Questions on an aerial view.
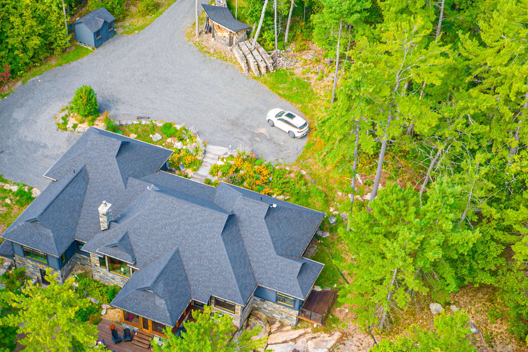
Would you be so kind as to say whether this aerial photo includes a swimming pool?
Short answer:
No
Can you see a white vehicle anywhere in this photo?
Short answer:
Yes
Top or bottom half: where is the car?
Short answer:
top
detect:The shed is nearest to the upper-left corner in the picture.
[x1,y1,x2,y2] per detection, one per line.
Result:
[71,4,115,47]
